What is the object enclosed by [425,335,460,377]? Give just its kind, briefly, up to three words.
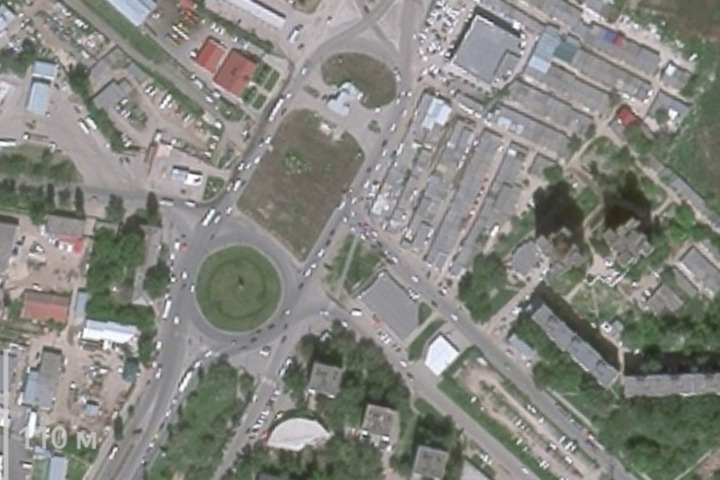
building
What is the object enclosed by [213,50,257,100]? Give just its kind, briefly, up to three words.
building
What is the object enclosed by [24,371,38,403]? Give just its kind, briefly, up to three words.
shed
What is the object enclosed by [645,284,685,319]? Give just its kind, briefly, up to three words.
house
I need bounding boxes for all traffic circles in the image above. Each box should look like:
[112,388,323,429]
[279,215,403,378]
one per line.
[188,226,297,347]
